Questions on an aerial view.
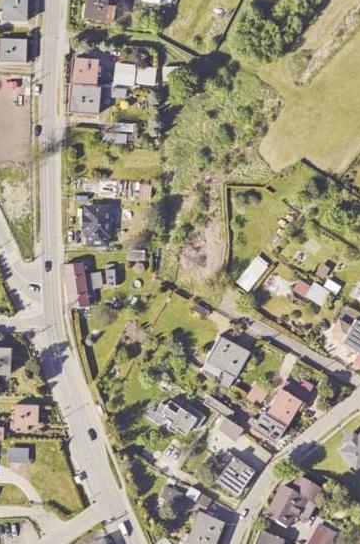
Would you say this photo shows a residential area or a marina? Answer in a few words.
residential area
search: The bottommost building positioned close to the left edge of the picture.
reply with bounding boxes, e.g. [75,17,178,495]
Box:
[7,448,29,462]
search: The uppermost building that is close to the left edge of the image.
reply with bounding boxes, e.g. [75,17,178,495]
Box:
[0,0,28,21]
